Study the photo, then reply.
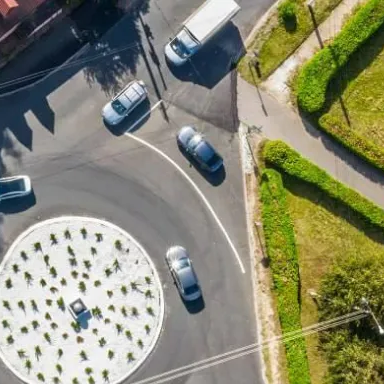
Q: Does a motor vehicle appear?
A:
Yes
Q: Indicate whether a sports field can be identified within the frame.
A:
No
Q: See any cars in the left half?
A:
Yes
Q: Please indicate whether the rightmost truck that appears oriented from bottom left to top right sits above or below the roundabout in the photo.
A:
above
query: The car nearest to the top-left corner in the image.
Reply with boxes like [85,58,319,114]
[101,79,148,125]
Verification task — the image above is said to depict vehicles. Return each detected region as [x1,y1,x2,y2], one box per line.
[101,79,148,125]
[168,0,247,63]
[168,246,200,299]
[0,174,33,200]
[177,124,224,173]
